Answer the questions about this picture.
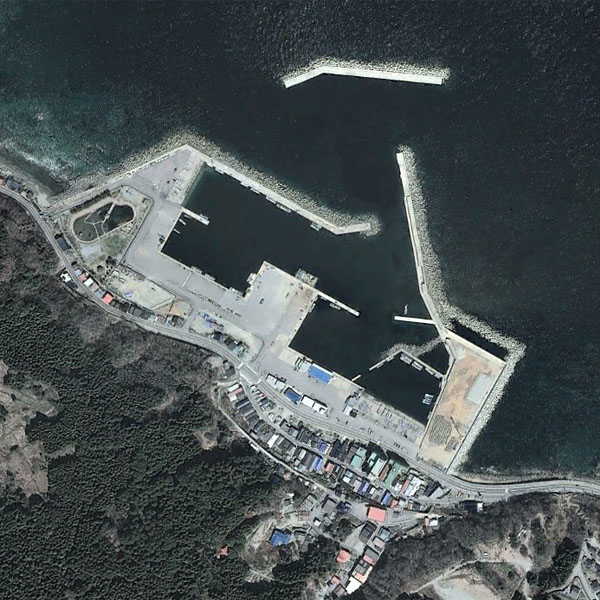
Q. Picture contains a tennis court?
No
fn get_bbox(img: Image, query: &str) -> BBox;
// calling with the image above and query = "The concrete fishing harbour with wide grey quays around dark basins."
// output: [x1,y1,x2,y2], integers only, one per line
[52,146,424,449]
